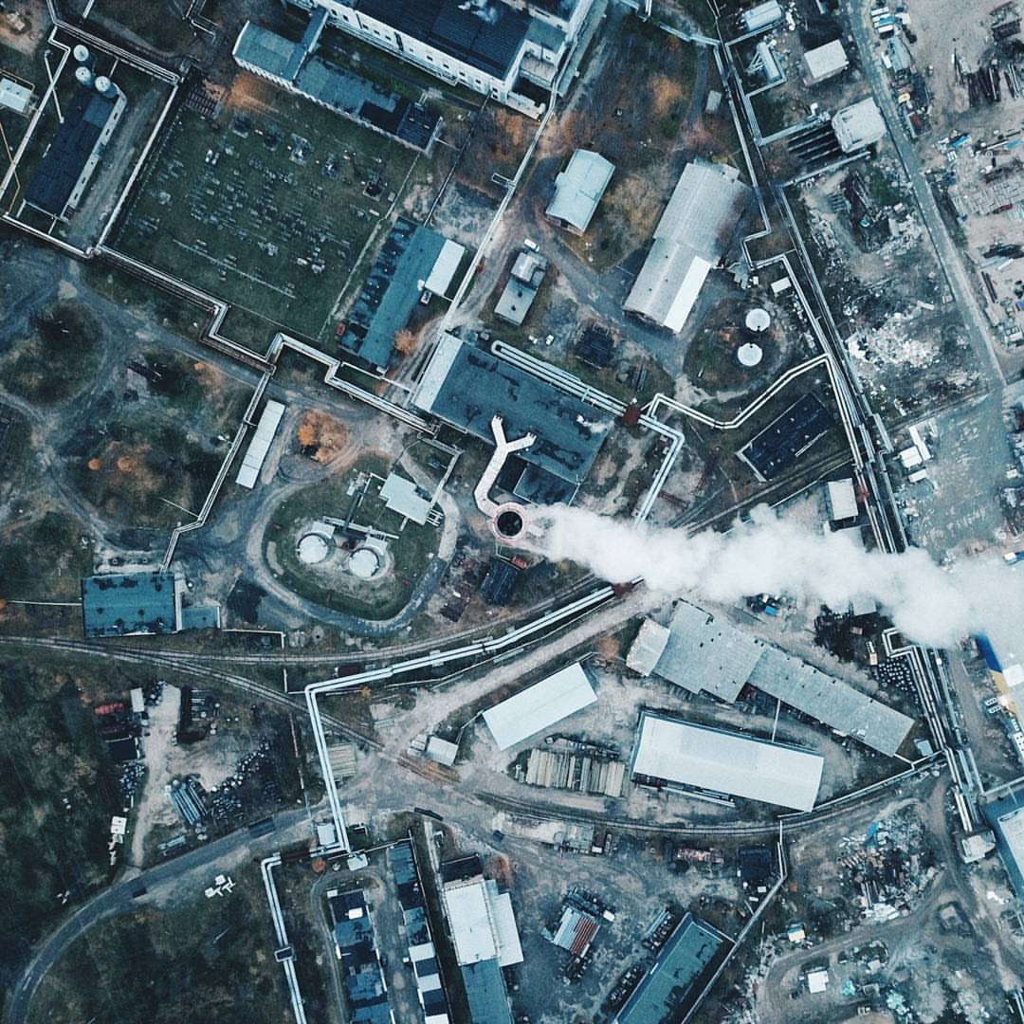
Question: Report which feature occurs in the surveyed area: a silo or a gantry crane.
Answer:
silo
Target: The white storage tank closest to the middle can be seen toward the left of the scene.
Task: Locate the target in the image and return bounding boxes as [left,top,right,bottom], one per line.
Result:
[349,548,382,580]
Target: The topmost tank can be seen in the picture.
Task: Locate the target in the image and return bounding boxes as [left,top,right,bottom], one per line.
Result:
[742,0,786,33]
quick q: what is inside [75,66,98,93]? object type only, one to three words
silo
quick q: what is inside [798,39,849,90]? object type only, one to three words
building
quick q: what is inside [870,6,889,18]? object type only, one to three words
vehicle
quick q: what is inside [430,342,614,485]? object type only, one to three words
house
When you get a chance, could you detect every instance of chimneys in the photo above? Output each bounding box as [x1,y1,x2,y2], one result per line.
[490,503,531,544]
